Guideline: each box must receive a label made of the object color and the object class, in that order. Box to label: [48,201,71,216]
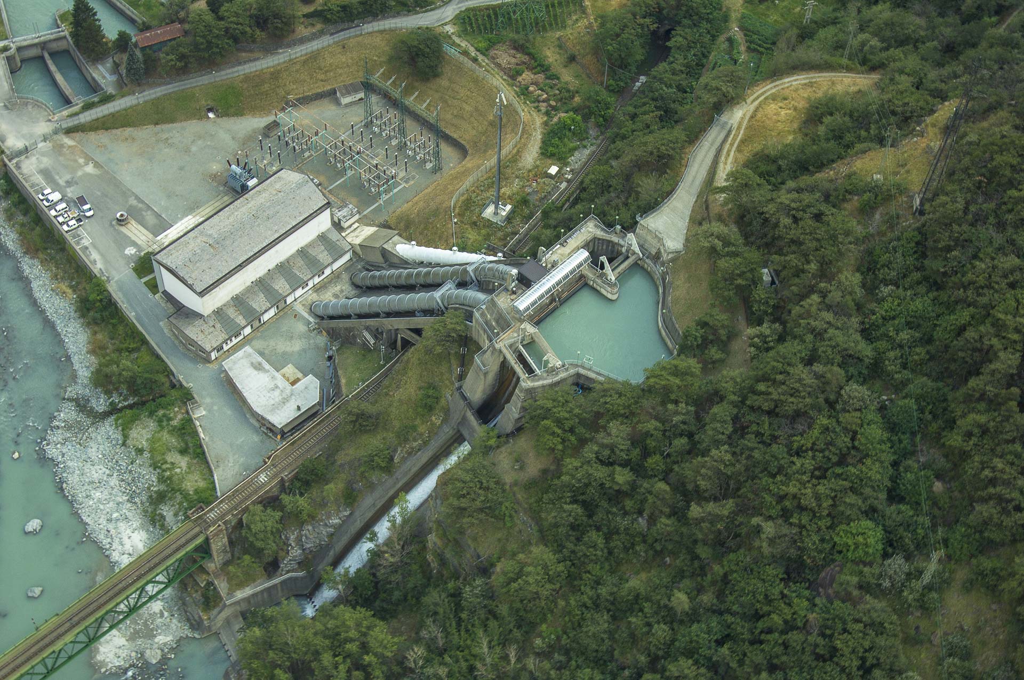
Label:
white car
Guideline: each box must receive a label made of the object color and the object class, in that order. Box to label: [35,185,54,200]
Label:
white car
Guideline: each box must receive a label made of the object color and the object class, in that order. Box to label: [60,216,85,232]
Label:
white vehicle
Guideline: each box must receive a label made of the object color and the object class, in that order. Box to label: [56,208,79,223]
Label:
white vehicle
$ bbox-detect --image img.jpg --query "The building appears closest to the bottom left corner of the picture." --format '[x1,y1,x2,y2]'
[222,346,320,438]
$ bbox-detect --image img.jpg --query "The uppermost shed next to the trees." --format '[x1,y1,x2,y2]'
[135,22,182,48]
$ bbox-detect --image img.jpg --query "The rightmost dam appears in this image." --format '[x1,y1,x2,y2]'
[455,213,683,443]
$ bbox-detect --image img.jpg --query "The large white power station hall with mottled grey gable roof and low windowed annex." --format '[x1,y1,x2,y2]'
[145,168,340,346]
